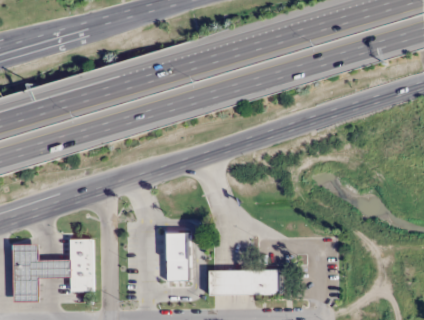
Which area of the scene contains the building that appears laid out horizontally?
bottom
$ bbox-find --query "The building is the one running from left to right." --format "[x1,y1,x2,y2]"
[208,270,281,296]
